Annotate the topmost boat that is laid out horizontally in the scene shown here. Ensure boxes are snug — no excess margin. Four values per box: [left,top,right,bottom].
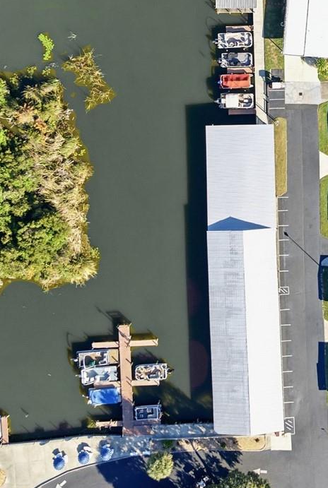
[214,32,254,47]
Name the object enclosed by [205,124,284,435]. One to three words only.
shed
